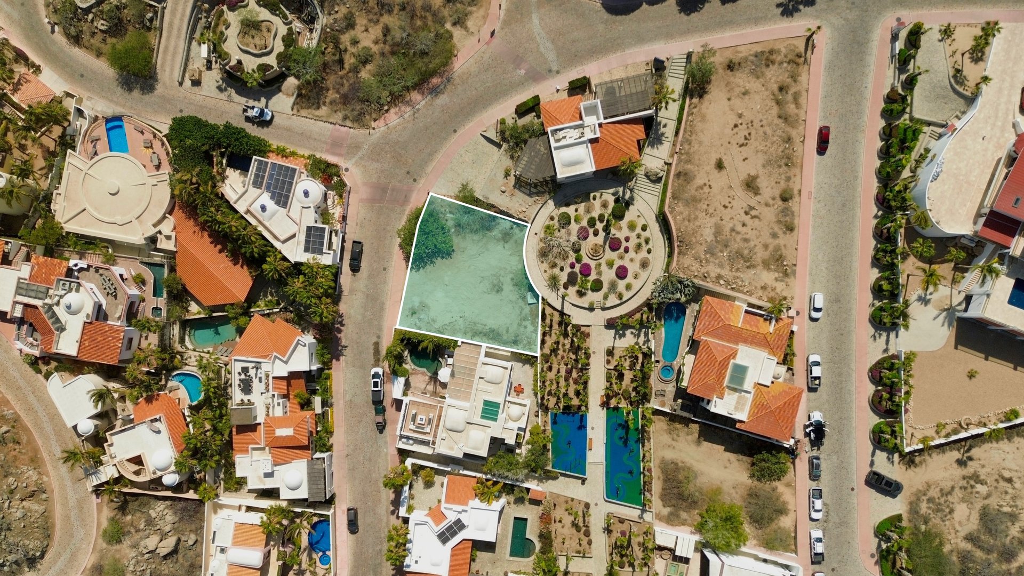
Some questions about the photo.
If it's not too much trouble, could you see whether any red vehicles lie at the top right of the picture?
Yes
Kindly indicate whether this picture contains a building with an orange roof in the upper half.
Yes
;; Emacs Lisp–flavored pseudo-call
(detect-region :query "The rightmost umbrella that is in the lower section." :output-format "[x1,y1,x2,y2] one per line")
[438,368,451,381]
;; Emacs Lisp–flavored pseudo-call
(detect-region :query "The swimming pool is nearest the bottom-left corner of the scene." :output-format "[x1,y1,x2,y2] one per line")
[170,370,205,405]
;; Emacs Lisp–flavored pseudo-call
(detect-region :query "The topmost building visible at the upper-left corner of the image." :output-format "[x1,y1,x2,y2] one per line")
[6,69,63,108]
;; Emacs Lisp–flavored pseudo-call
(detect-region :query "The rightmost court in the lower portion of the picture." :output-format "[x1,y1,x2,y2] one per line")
[607,408,643,507]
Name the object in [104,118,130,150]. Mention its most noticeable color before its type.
blue swimming pool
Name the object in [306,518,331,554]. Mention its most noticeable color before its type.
blue swimming pool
